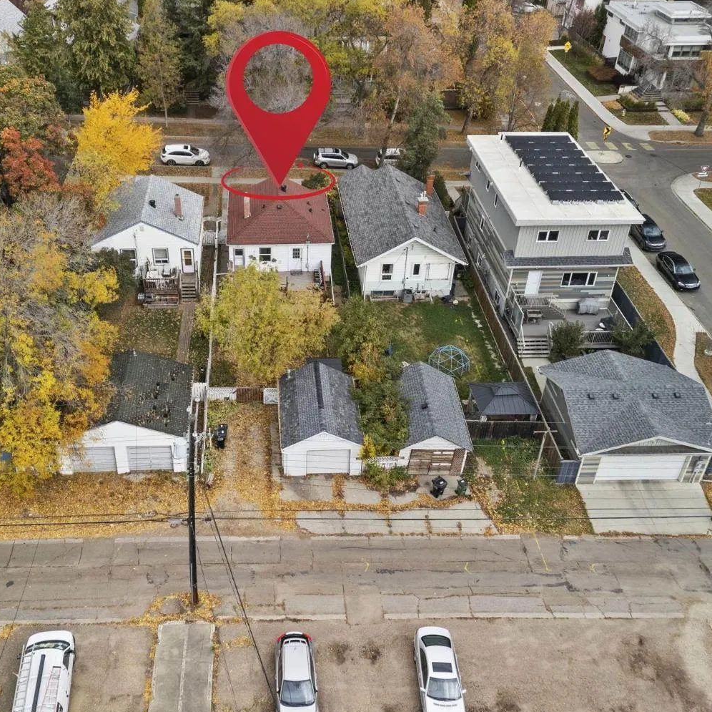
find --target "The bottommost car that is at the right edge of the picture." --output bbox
[651,255,703,293]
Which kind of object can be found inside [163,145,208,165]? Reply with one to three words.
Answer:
car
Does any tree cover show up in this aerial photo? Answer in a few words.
Yes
